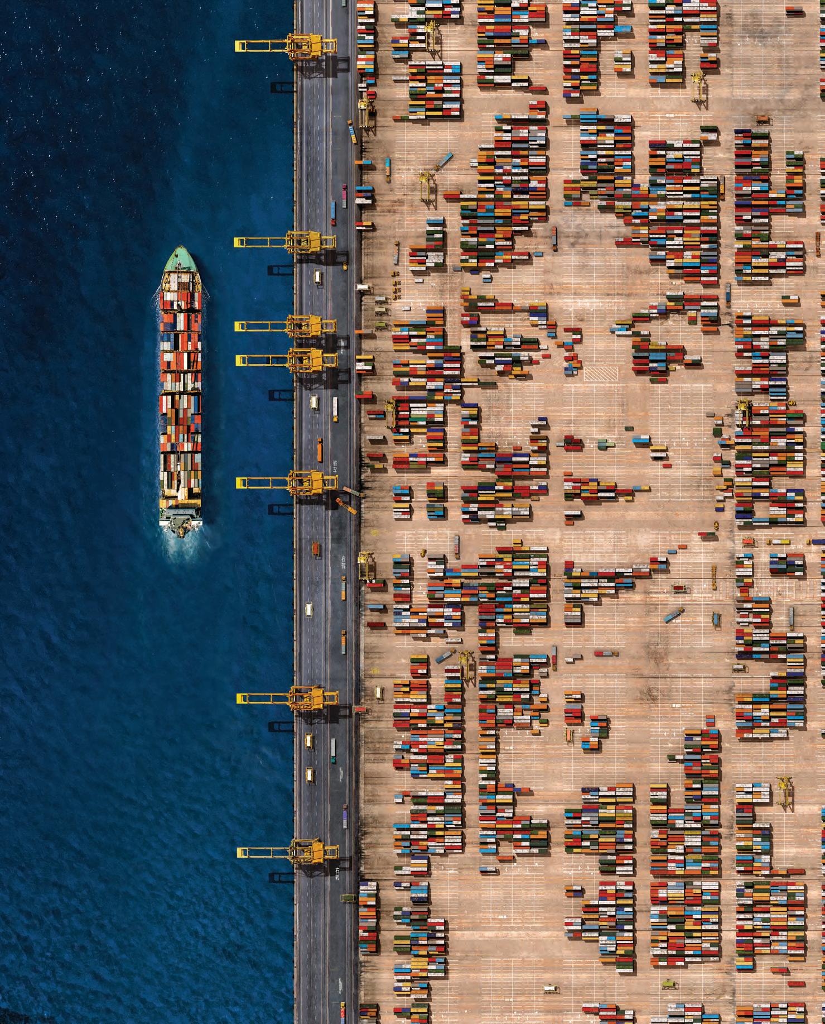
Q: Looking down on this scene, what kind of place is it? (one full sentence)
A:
The picture captures a port.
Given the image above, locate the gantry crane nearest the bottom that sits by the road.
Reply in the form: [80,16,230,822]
[236,837,338,865]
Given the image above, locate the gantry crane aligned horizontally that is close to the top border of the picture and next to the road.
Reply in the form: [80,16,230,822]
[234,34,337,63]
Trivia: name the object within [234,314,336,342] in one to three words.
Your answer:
container crane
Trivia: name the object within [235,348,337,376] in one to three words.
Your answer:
container crane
